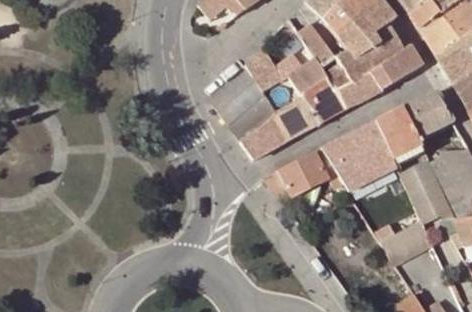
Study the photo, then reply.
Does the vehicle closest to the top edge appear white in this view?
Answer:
Yes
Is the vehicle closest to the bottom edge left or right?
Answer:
right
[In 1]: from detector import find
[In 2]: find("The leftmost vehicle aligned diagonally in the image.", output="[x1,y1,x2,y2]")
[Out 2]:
[201,78,223,98]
